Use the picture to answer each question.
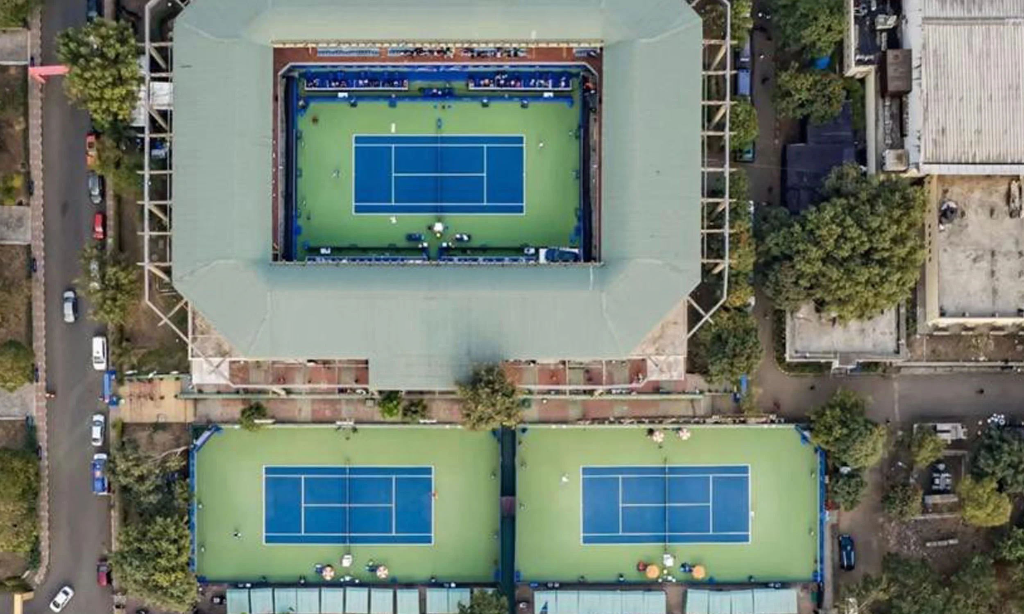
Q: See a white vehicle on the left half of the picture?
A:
Yes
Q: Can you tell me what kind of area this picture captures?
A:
sports ground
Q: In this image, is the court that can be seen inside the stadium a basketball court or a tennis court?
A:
tennis court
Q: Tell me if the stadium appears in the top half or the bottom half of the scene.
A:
top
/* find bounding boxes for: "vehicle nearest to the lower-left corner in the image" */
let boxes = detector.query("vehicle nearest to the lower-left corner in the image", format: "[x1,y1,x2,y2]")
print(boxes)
[49,584,77,614]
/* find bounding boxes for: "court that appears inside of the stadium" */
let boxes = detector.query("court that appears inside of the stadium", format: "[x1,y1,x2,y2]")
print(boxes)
[287,71,590,263]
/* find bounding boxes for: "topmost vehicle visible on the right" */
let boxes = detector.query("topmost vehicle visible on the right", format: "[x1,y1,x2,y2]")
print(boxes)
[737,37,752,68]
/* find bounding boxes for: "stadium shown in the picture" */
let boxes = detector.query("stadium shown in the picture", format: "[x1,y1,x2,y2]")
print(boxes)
[137,0,738,395]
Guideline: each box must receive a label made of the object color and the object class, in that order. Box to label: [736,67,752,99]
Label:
blue vehicle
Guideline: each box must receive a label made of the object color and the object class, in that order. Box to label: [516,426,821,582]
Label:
green tennis court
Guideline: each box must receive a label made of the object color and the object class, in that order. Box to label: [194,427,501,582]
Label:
green tennis court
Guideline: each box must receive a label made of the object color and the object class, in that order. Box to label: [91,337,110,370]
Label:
white car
